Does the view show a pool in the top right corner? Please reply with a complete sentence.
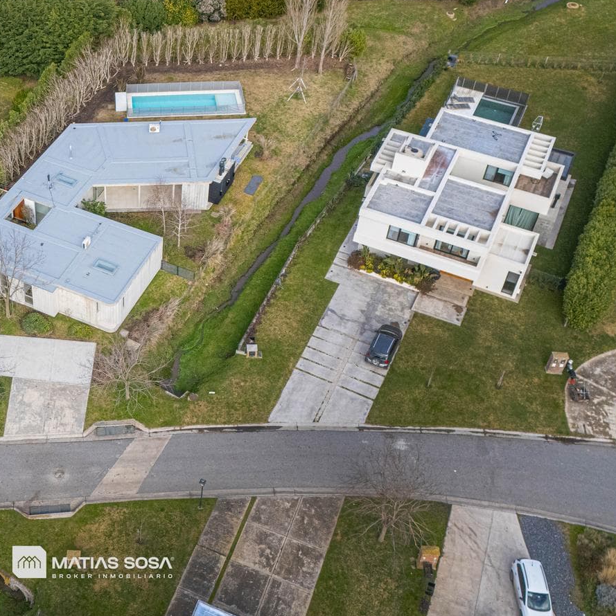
Yes, a pool appears in the top right corner.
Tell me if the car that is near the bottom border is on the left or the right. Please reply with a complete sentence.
The car that is near the bottom border sits on the right side.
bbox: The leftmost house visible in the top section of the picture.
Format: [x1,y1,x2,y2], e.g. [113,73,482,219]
[0,118,259,336]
